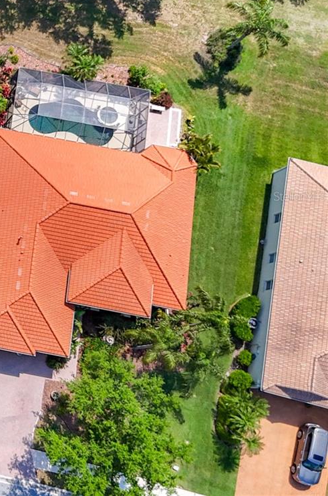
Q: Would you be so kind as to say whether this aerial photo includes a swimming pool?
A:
Yes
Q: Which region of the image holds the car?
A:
bottom right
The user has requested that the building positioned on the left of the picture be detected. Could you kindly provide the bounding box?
[0,128,200,358]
